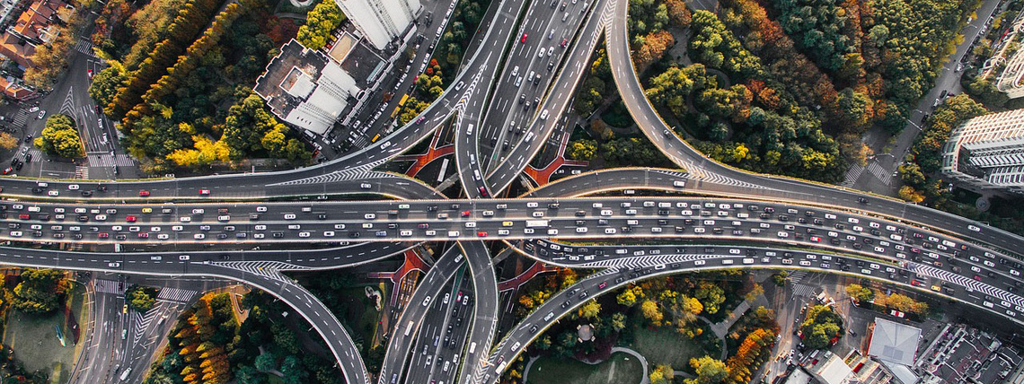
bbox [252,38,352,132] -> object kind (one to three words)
building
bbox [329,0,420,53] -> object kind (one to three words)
building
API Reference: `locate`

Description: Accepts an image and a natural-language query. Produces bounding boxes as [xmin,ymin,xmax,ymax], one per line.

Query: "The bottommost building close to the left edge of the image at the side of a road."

[0,70,45,107]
